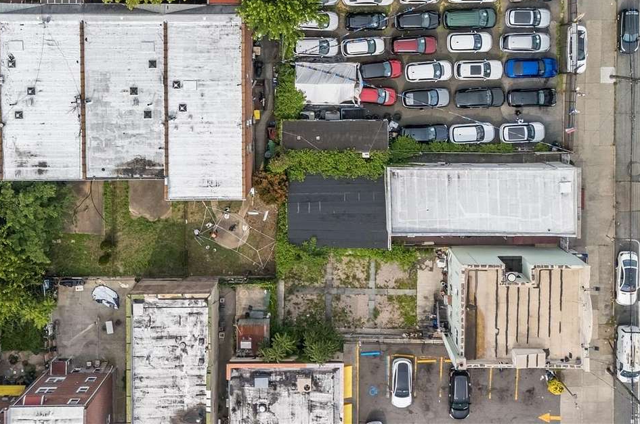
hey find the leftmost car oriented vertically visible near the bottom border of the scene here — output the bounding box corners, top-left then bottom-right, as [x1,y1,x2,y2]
[390,356,414,408]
